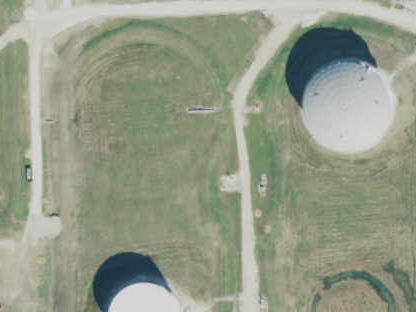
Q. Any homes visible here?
No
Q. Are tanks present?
Yes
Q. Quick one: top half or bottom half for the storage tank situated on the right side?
top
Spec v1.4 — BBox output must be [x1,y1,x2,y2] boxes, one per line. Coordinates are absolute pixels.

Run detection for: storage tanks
[108,277,182,312]
[304,56,395,150]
